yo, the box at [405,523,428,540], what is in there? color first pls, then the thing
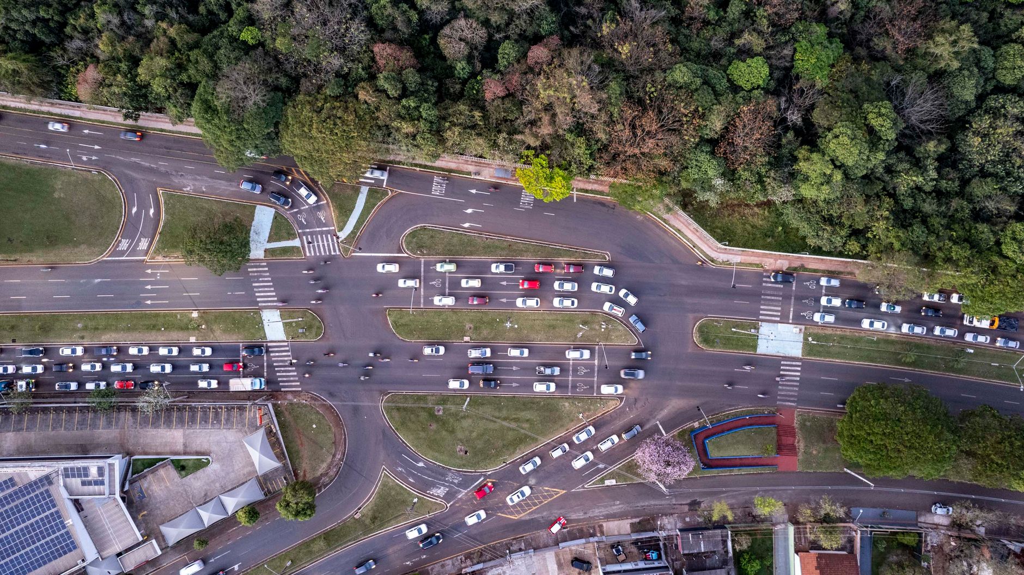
white car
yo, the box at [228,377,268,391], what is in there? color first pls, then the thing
white vehicle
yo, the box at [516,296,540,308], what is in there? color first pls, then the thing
white vehicle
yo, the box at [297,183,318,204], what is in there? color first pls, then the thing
white truck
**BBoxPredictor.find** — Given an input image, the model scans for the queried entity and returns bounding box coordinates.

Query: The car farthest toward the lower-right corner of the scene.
[931,500,953,514]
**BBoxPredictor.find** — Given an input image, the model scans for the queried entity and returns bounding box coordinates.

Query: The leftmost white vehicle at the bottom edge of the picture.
[179,555,207,575]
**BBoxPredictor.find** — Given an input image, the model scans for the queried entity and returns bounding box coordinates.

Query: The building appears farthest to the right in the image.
[788,546,859,575]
